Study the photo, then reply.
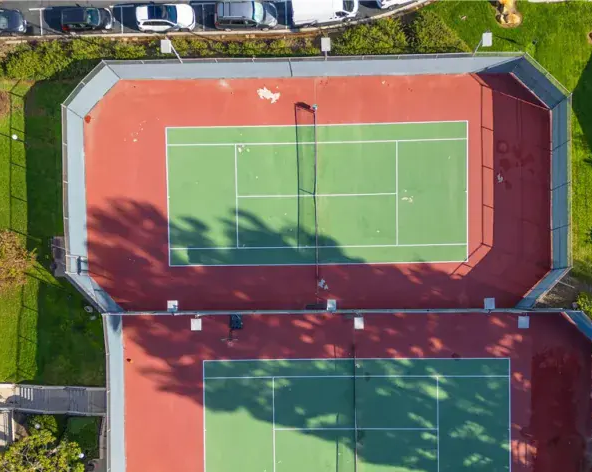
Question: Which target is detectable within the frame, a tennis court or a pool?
tennis court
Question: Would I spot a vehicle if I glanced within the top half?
Yes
